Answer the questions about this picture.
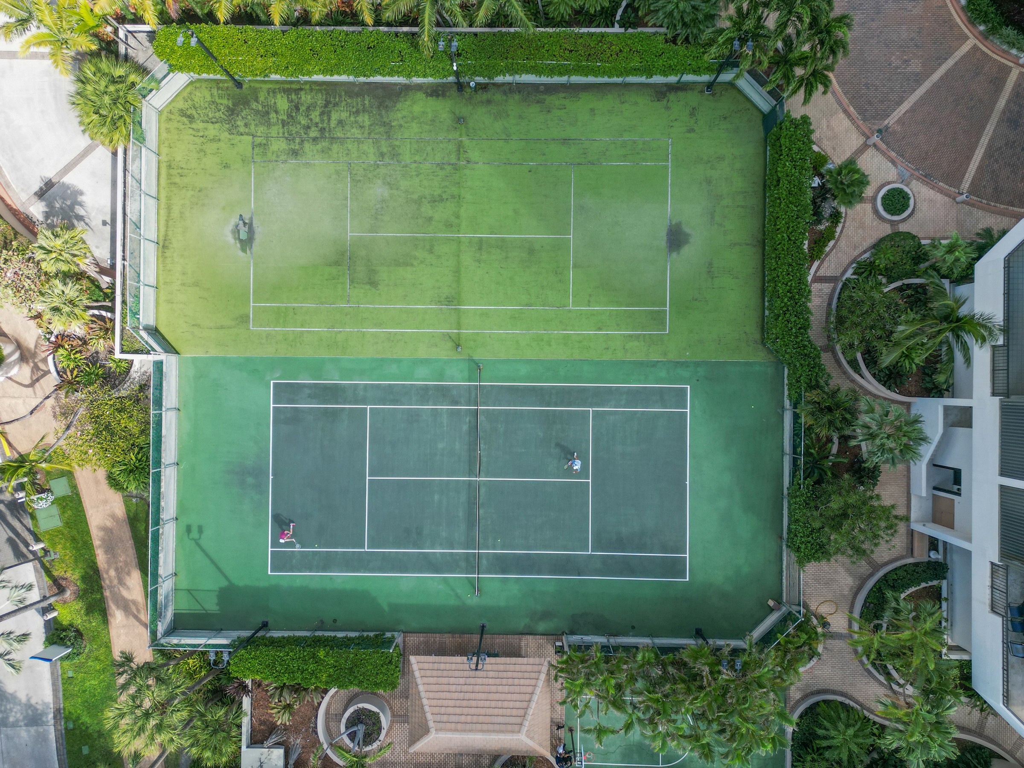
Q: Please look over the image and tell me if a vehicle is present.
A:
No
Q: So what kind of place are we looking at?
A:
sports ground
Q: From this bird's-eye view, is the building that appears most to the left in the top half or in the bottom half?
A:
bottom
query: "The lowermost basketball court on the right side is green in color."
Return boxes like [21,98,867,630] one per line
[564,637,785,768]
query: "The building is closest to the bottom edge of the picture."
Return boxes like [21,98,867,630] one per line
[406,651,553,759]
